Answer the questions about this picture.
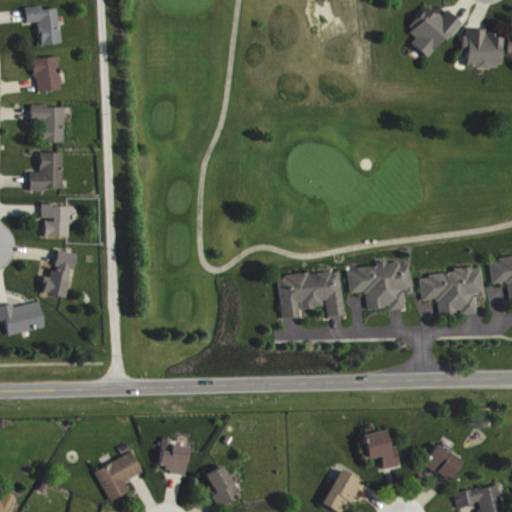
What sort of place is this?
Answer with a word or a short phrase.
golf course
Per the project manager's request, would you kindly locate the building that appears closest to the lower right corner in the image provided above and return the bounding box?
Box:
[456,484,506,512]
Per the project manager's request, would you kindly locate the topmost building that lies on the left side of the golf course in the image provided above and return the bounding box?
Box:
[24,4,62,46]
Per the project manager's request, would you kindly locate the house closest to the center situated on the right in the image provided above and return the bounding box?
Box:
[278,271,346,319]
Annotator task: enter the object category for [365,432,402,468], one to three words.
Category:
house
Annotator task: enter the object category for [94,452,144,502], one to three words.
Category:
house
